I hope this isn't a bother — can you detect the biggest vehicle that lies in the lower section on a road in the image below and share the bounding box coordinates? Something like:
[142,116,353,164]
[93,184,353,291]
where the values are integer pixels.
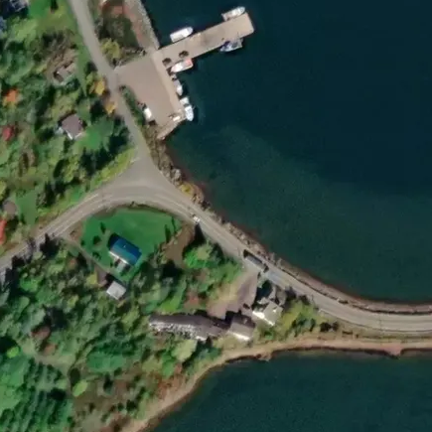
[246,255,267,270]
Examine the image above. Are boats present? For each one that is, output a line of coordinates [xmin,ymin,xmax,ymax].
[221,38,243,50]
[170,29,192,42]
[173,80,183,95]
[171,59,194,71]
[183,105,193,121]
[222,8,245,21]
